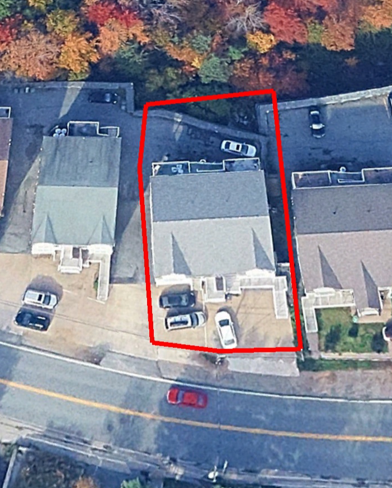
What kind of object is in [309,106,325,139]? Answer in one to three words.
car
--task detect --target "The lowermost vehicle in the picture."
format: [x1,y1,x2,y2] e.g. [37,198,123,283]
[166,387,209,408]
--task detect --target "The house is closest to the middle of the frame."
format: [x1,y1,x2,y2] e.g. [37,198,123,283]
[151,157,288,321]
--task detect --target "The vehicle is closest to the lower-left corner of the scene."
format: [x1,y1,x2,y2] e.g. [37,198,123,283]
[14,309,52,331]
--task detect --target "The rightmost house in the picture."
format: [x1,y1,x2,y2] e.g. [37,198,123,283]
[290,167,392,335]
